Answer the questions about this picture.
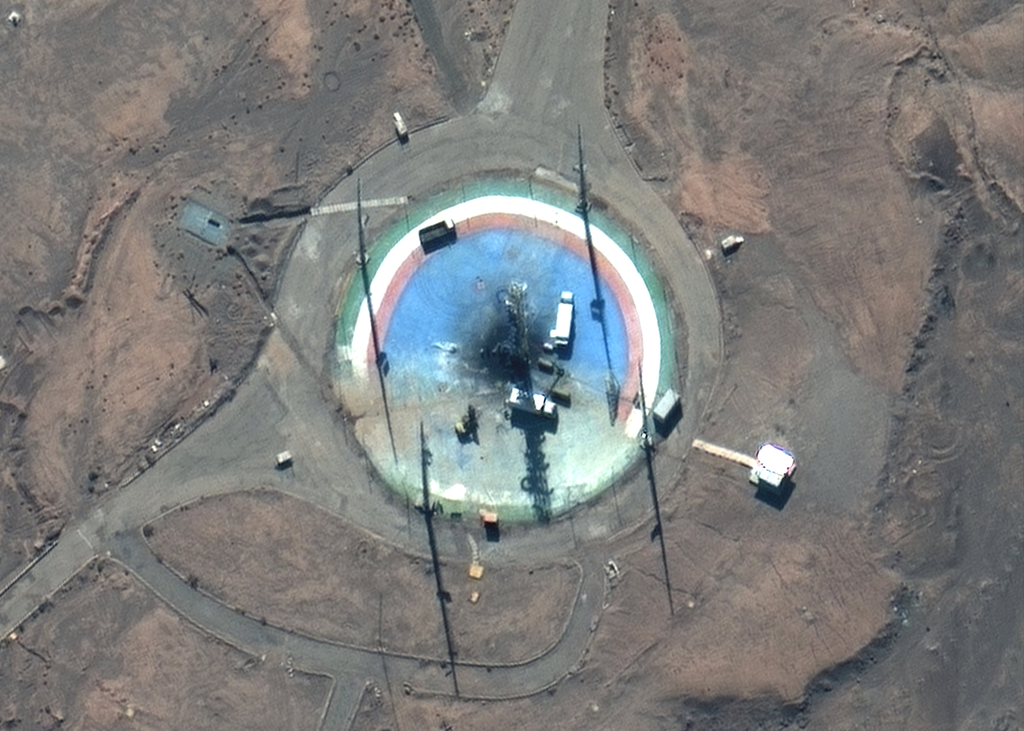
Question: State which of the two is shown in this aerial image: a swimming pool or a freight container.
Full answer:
This aerial view contains a freight container.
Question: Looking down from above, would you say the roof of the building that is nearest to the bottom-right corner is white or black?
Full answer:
In this view, the roof of the building that is nearest to the bottom-right corner is white.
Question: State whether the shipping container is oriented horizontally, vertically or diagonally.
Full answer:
The shipping container runs diagonally in the image.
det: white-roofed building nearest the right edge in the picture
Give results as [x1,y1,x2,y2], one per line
[747,442,798,491]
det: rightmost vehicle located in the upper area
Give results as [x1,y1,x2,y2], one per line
[721,237,744,254]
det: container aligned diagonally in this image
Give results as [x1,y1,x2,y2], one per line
[651,391,678,423]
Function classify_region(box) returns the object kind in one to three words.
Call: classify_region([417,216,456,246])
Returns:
truck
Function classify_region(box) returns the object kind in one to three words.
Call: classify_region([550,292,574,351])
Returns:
truck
